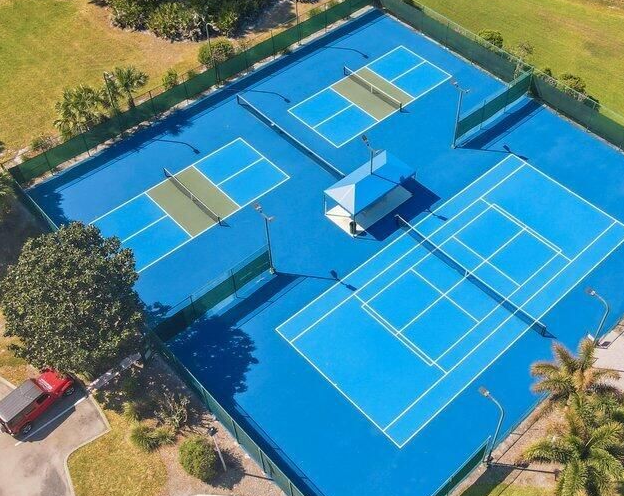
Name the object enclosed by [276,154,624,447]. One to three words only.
tennis court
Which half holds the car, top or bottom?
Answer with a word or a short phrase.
bottom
